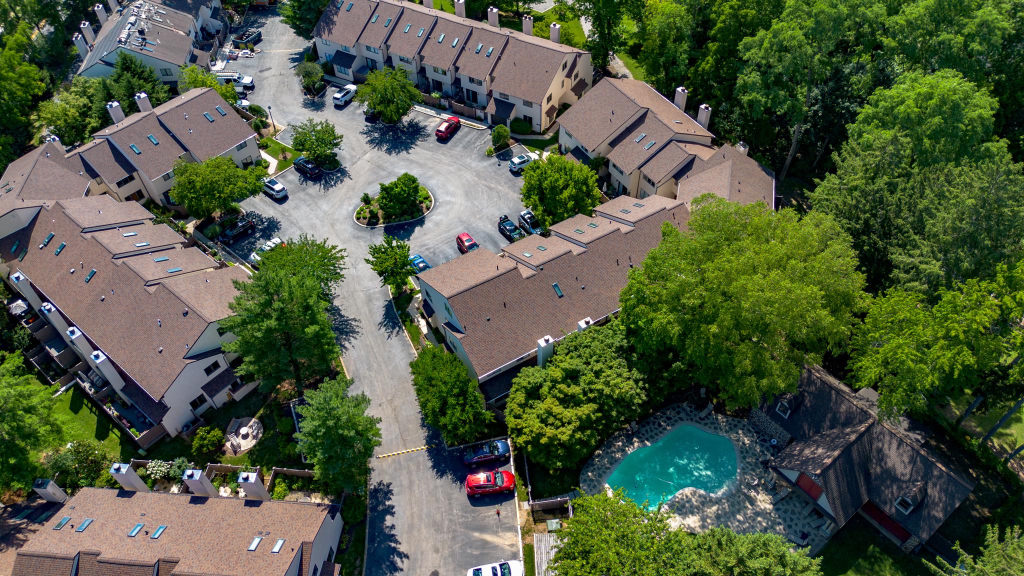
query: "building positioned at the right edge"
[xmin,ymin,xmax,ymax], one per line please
[745,353,979,550]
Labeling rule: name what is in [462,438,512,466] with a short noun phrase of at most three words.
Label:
car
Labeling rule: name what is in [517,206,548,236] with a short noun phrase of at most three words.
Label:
car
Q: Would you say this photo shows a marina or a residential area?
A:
residential area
